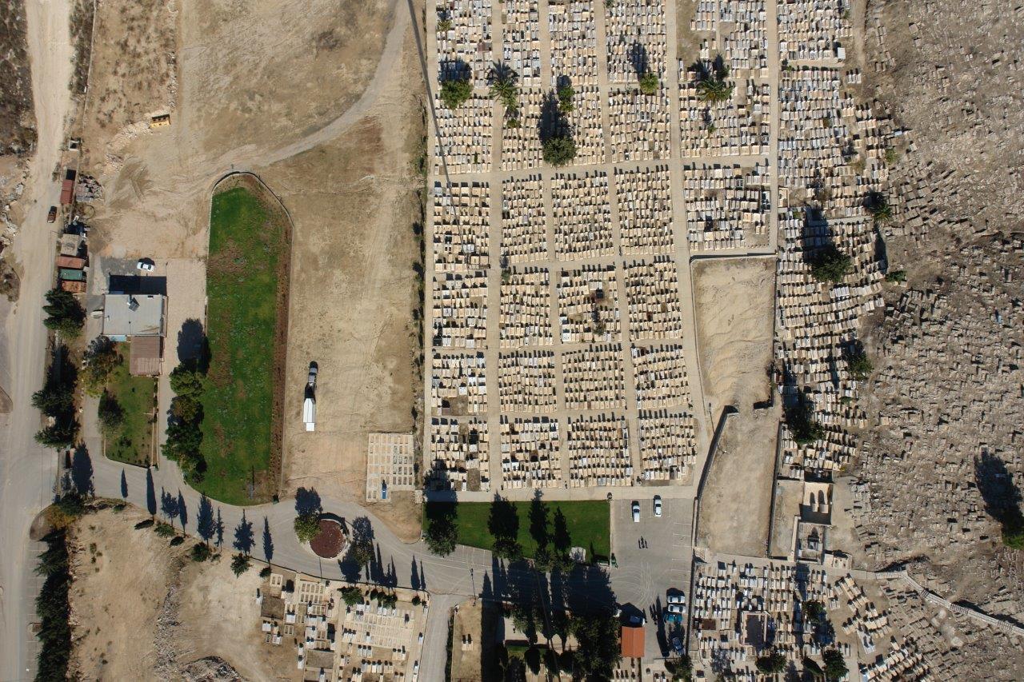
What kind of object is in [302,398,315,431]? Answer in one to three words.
vehicle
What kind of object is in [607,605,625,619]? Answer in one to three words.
car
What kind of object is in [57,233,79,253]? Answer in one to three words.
shed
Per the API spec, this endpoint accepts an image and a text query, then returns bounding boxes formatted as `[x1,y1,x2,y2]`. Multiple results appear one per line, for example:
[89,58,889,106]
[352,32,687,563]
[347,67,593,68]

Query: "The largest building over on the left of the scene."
[104,294,173,335]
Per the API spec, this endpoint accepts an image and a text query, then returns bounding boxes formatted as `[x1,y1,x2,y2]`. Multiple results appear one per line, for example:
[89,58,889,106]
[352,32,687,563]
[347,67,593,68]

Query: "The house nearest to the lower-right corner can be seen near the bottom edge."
[622,624,645,659]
